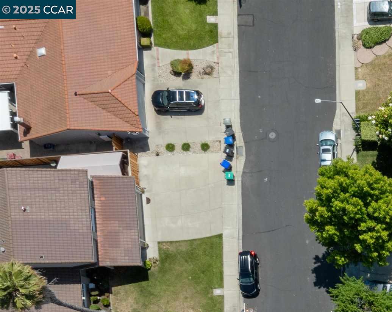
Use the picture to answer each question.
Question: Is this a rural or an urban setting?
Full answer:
The area shown here is urban.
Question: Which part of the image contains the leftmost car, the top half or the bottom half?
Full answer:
It is in the top half that the leftmost car appears.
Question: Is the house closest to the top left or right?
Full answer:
It is on the left.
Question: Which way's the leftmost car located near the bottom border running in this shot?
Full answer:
The leftmost car located near the bottom border is laid out vertically.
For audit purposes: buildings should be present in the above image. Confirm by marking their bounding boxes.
[0,0,152,146]
[0,169,153,312]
